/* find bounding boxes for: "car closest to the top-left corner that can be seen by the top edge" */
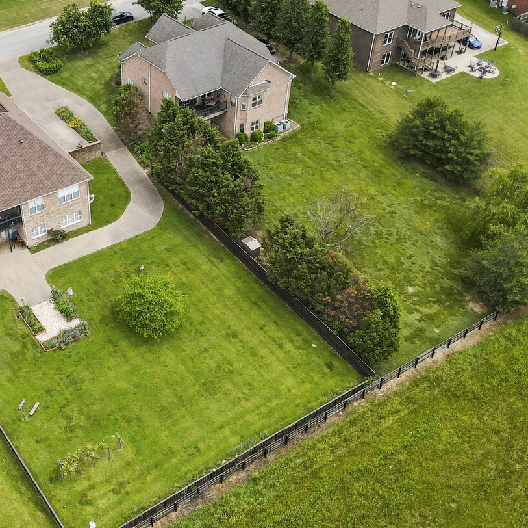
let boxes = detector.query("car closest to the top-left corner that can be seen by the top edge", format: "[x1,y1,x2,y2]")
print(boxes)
[109,9,135,24]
